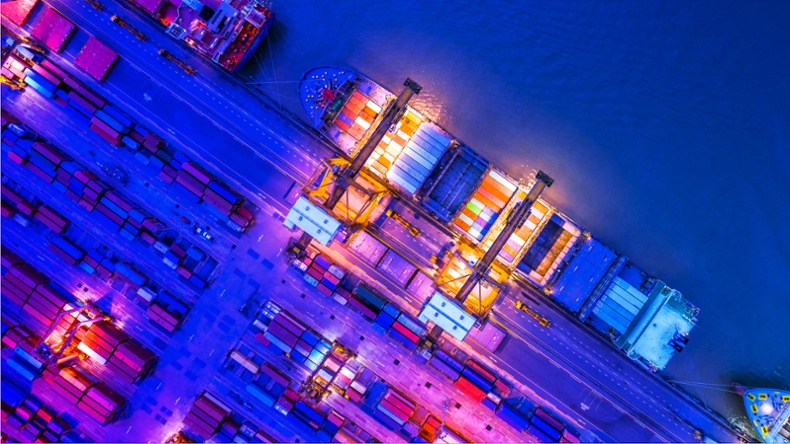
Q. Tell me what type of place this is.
port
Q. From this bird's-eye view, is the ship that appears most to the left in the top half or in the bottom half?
top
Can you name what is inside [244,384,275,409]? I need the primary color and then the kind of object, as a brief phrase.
blue shipping container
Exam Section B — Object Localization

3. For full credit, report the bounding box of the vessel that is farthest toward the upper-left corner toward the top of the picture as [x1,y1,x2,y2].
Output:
[134,0,272,69]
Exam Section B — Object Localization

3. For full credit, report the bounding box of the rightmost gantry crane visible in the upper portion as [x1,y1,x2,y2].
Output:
[280,73,427,262]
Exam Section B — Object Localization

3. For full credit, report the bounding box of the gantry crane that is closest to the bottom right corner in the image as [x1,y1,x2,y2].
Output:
[413,166,557,354]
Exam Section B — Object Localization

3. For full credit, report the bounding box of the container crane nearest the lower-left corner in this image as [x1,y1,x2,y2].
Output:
[24,303,110,372]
